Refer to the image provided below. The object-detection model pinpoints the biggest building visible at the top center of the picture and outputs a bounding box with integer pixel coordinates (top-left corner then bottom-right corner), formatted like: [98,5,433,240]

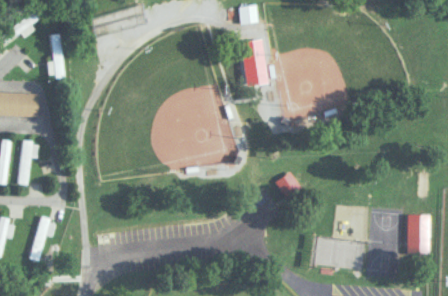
[244,38,270,86]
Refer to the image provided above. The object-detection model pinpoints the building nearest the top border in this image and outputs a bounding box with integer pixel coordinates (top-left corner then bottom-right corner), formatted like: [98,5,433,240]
[238,2,259,25]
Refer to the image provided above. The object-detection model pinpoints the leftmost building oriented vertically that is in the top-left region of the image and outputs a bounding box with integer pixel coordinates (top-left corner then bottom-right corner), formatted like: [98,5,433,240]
[48,34,66,79]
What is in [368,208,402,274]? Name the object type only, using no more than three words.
basketball court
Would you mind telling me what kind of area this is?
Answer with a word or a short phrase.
sports ground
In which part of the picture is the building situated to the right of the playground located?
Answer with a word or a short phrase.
bottom right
